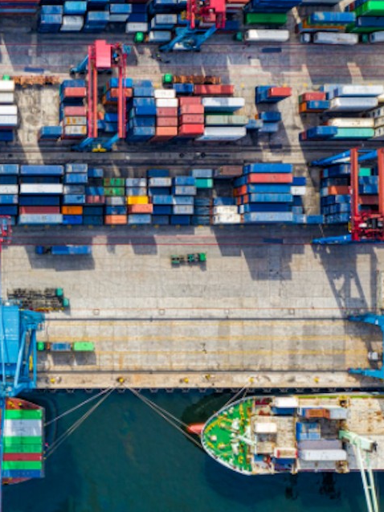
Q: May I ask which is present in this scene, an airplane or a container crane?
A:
container crane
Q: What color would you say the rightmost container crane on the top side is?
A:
red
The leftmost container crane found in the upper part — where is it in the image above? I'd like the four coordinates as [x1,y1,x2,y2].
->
[68,35,128,155]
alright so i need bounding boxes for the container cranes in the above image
[68,35,128,155]
[158,0,227,54]
[350,312,384,380]
[0,197,40,512]
[306,149,384,250]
